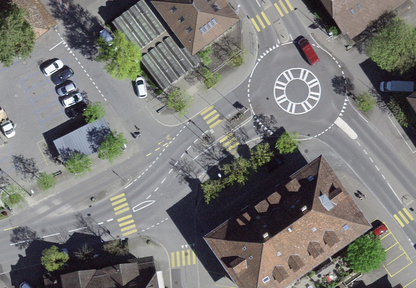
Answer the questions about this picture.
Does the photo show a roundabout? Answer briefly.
Yes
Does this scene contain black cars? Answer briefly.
Yes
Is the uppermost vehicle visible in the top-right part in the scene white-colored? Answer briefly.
No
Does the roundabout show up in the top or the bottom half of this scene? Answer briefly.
top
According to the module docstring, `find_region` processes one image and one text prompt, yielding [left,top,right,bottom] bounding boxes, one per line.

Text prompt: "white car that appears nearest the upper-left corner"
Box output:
[42,60,64,77]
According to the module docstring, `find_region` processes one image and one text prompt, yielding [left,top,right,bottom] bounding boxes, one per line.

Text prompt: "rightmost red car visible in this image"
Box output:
[370,224,390,239]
